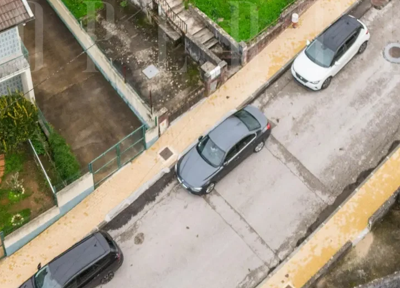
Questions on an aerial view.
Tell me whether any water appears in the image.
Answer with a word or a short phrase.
No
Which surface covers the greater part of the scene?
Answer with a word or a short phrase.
paved ground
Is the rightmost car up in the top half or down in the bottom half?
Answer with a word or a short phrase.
top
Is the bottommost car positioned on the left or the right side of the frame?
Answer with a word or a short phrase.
left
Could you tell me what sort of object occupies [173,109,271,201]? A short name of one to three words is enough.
car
